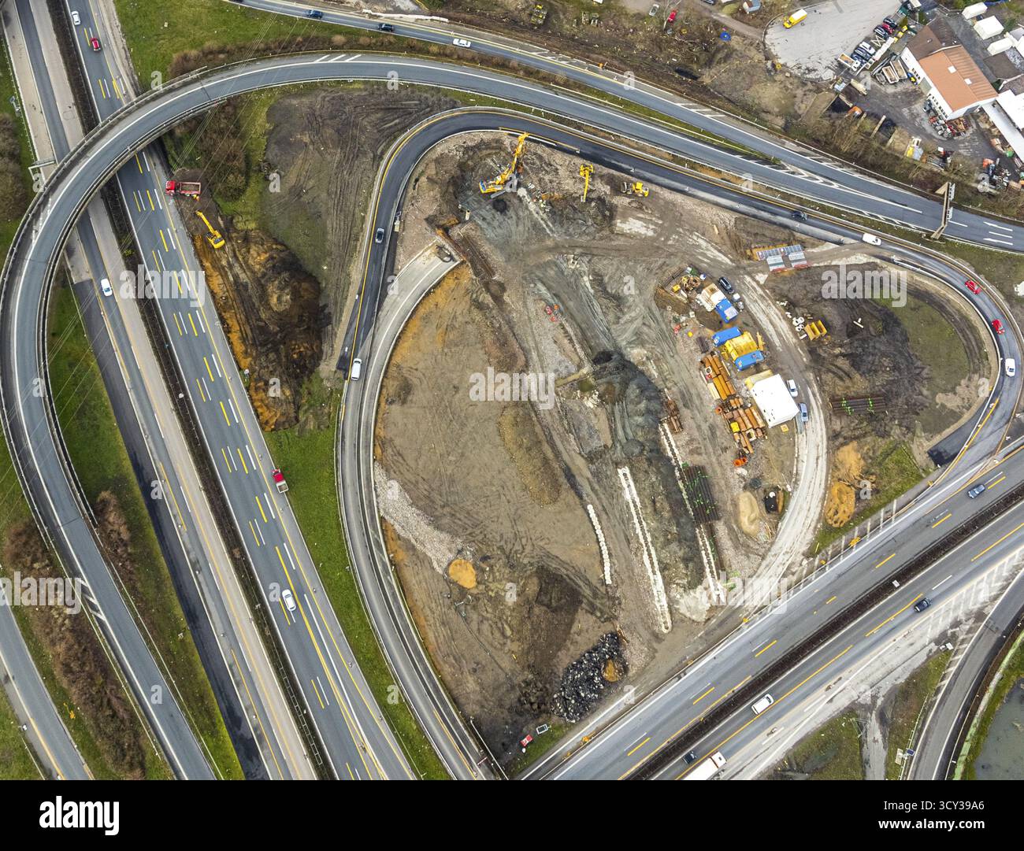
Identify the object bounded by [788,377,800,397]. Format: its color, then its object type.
white vehicle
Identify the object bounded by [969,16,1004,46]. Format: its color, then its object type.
white tent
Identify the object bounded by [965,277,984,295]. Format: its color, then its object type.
red car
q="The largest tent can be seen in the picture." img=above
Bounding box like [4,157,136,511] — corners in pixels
[746,374,799,432]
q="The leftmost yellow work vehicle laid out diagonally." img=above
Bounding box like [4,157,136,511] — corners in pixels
[199,215,226,248]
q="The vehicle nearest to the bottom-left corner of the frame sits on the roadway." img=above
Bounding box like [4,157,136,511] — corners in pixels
[281,589,296,612]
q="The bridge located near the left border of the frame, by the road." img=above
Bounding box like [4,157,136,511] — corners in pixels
[0,64,224,547]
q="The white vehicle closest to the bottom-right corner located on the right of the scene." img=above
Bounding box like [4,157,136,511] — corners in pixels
[751,693,775,715]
